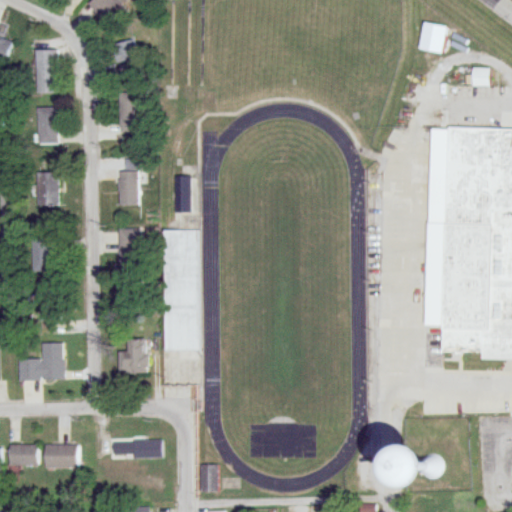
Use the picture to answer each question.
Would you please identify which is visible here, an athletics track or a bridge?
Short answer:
athletics track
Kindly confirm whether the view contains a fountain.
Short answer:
No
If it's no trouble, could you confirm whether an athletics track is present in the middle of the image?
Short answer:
Yes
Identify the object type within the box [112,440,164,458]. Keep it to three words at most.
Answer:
house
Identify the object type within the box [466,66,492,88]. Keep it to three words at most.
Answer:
shed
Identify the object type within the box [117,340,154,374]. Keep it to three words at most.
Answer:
house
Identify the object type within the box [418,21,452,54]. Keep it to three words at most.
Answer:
barn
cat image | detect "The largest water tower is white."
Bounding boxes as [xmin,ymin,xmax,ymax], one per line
[380,448,447,494]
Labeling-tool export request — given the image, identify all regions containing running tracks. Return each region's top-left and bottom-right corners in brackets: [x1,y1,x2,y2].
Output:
[204,104,366,492]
